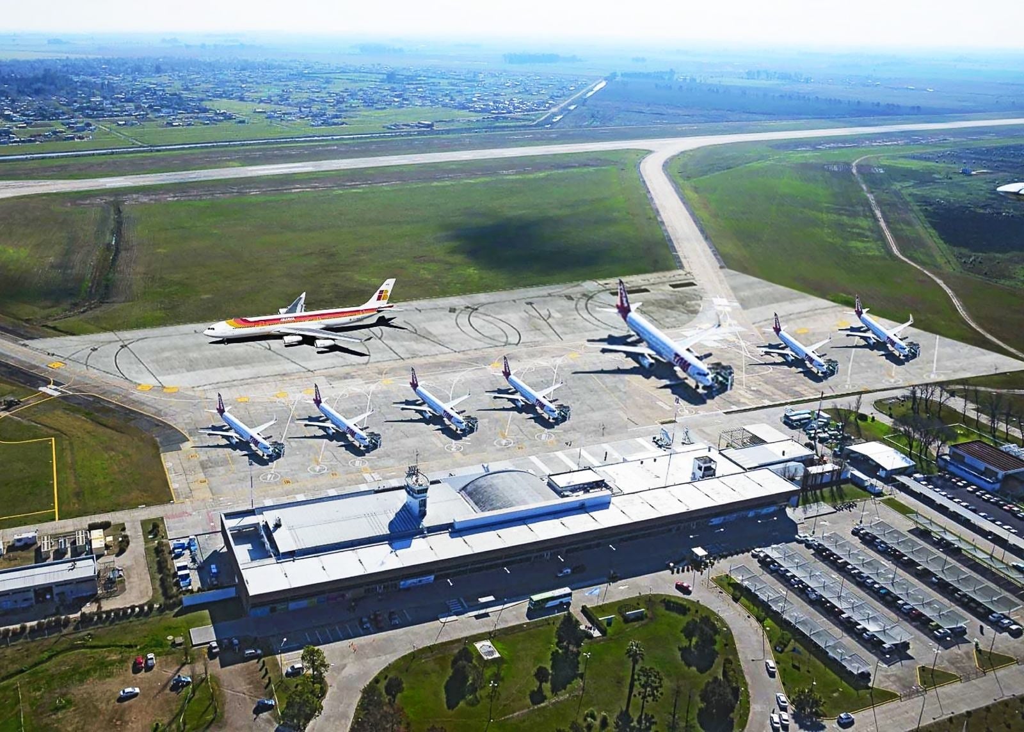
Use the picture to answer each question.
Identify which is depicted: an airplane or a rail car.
airplane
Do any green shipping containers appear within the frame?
No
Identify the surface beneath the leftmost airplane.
apron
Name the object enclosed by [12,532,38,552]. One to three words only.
building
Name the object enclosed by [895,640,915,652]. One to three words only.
vehicle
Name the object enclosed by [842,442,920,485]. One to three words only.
hangar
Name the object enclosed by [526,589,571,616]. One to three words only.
bus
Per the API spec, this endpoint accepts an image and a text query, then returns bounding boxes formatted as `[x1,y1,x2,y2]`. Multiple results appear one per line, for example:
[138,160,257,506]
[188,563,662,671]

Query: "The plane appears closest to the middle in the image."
[481,354,562,419]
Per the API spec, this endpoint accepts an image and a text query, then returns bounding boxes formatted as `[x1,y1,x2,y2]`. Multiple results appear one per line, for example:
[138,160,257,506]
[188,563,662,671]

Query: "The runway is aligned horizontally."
[0,119,1024,198]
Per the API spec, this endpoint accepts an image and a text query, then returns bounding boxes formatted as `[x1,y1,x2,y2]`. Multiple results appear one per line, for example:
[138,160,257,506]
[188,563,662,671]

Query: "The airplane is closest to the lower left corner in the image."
[195,391,275,457]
